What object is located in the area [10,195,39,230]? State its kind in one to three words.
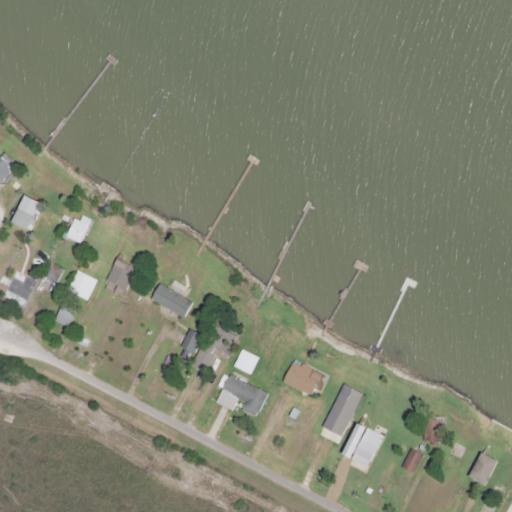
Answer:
house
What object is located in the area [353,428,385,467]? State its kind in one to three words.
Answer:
building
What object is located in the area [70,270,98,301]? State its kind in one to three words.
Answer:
building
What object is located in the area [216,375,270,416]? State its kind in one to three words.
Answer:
house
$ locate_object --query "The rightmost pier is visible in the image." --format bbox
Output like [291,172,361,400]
[370,278,418,360]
